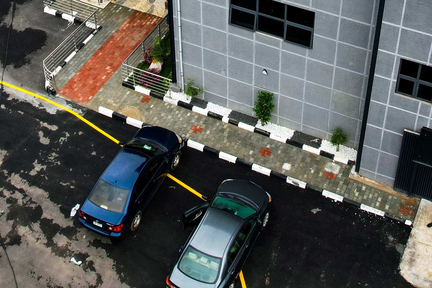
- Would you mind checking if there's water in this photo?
No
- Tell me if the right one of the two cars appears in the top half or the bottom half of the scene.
bottom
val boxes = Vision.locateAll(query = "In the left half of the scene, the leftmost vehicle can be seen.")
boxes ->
[72,121,184,248]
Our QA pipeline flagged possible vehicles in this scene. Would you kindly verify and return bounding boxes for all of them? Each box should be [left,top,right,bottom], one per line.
[72,121,184,248]
[163,178,273,288]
